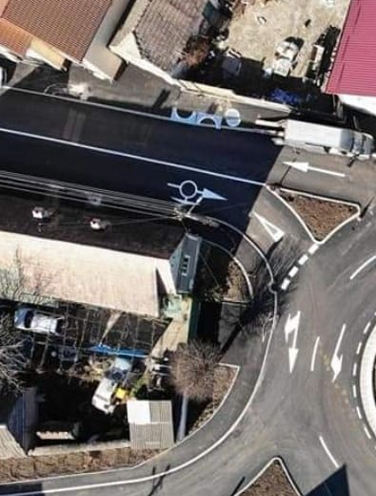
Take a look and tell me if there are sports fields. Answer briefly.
No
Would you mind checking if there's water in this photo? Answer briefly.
No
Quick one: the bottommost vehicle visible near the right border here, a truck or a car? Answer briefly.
truck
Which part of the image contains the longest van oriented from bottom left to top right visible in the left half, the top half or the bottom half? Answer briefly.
bottom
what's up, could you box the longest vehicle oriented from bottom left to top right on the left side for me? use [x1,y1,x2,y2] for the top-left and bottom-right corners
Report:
[87,355,141,415]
